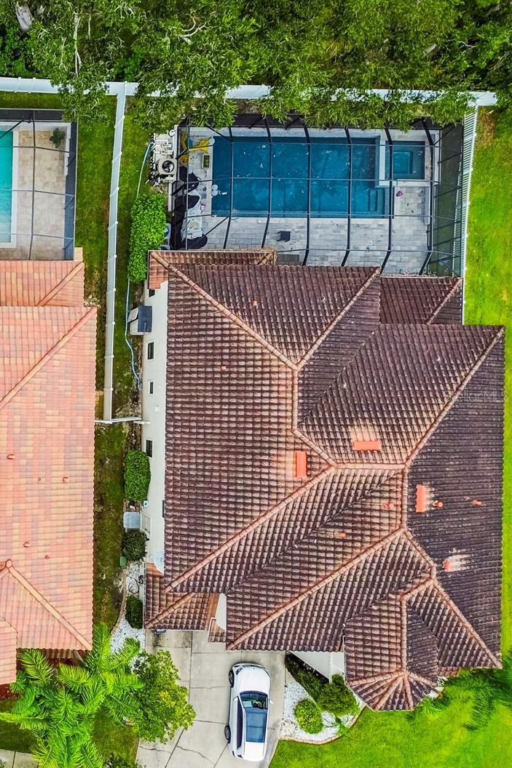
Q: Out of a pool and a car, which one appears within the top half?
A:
pool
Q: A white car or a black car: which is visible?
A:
white car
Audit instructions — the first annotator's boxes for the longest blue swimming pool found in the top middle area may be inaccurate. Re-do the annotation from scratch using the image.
[168,124,429,222]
